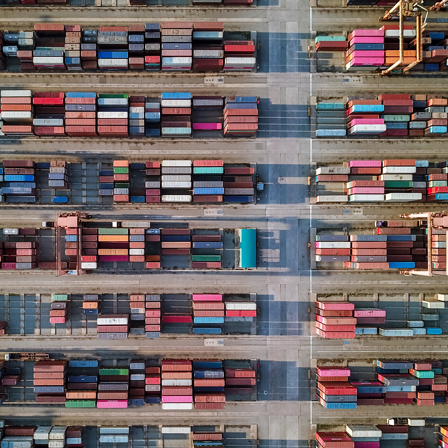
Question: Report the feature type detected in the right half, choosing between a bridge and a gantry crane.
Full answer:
There is a gantry crane in the right half.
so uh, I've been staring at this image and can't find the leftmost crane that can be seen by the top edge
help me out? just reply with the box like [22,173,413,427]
[372,0,428,77]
